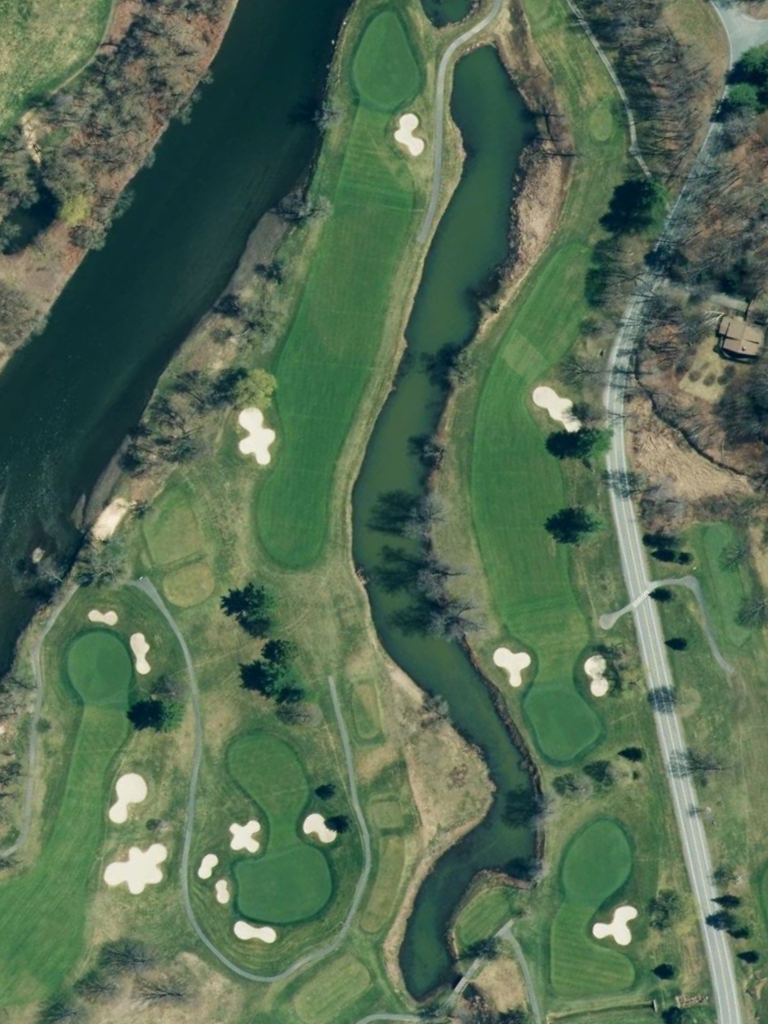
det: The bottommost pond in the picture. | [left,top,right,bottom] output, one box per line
[349,44,539,999]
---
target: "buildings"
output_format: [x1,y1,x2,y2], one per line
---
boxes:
[715,316,766,361]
